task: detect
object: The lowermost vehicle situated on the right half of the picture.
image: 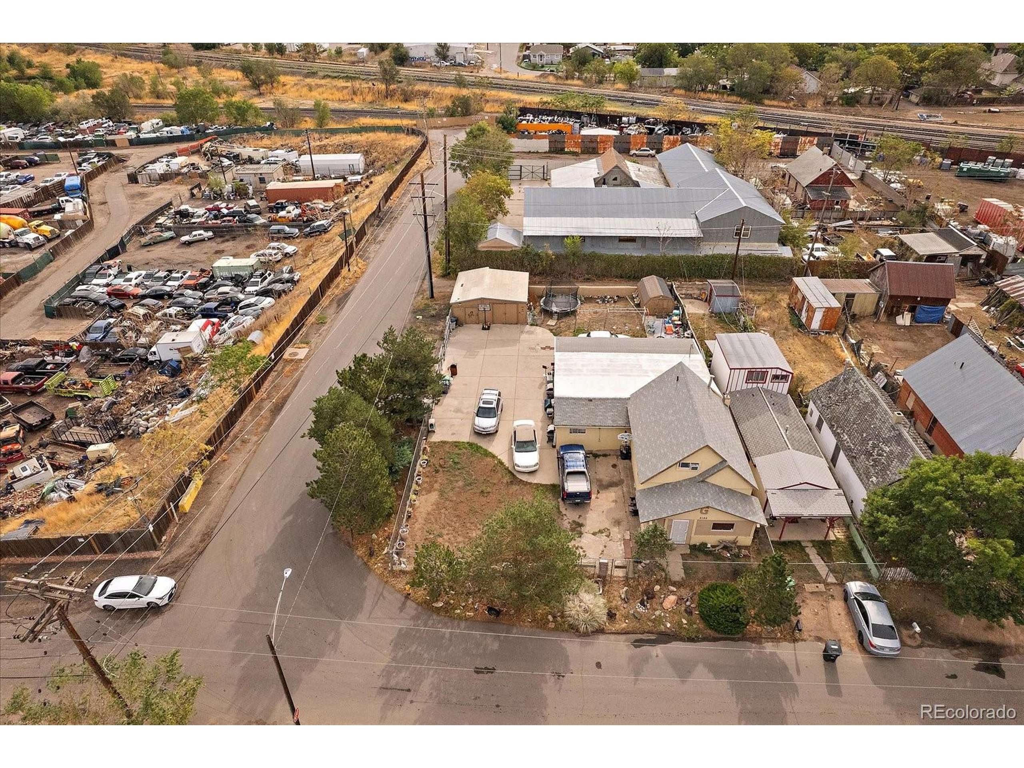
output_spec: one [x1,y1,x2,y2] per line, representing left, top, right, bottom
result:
[843,580,904,663]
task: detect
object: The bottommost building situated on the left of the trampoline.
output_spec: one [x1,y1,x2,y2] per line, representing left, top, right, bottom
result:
[450,270,530,325]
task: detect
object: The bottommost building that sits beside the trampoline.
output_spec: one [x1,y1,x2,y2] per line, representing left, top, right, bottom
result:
[552,338,767,546]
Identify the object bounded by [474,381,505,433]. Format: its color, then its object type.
white car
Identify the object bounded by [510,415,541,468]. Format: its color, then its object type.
white car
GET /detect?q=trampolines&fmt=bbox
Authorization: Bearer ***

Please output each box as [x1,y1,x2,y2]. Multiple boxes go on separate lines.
[540,275,581,322]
